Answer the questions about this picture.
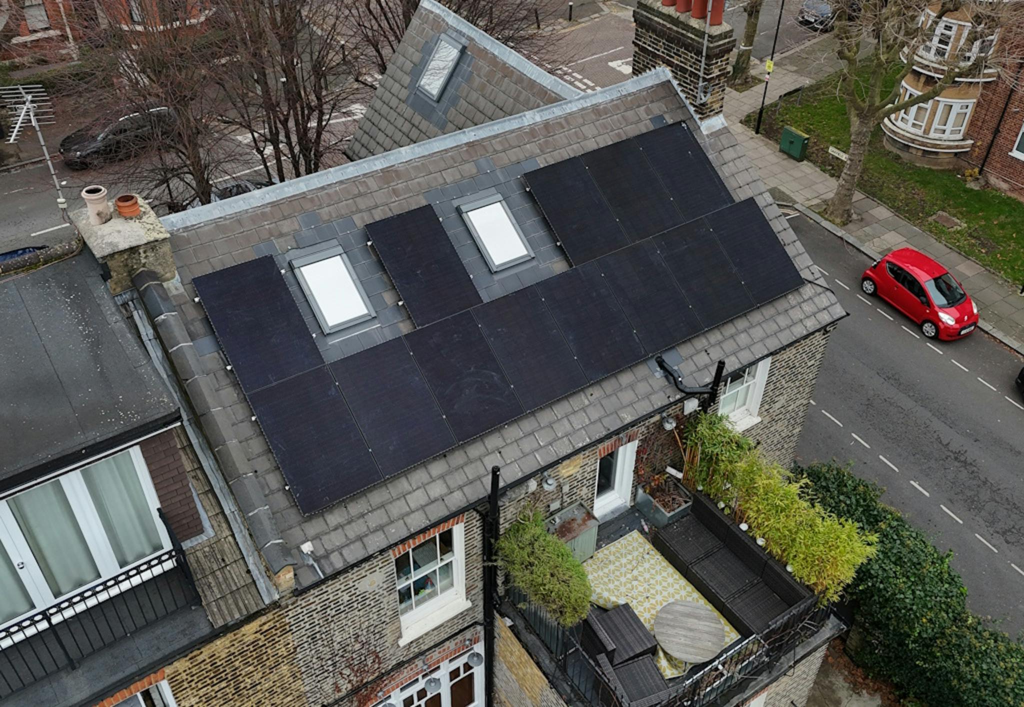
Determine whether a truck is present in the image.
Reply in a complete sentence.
No, the picture doesn't show any truck.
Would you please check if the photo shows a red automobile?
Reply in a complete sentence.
Yes, you can see a red automobile in this photo.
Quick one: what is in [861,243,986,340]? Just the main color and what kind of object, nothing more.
red car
